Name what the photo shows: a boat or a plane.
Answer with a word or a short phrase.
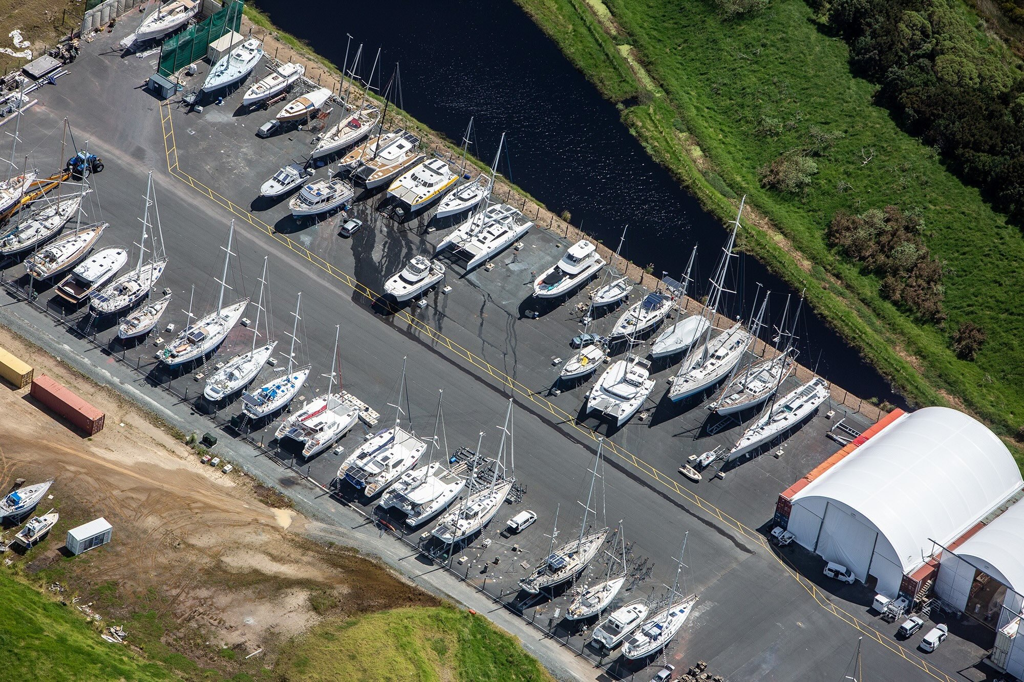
boat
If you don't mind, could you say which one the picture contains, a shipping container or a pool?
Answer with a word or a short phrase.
shipping container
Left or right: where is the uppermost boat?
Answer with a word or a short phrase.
left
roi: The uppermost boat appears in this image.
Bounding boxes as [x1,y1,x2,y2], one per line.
[134,0,212,38]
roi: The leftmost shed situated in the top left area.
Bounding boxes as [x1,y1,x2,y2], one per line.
[150,76,177,101]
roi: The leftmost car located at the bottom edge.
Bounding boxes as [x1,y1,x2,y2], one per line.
[651,657,672,682]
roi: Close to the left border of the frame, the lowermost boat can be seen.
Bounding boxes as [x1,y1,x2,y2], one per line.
[17,514,62,550]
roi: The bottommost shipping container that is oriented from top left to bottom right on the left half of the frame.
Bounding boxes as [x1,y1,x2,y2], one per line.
[30,374,105,434]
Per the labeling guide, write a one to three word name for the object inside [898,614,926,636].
car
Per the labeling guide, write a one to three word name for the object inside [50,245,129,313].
boat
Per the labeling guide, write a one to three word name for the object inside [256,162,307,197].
boat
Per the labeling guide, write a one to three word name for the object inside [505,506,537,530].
vehicle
